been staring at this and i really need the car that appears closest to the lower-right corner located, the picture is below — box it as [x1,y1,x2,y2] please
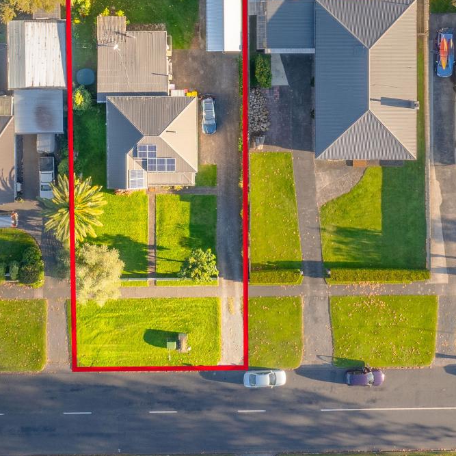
[346,362,383,388]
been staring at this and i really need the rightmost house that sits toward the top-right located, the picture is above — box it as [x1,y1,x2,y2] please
[314,0,421,169]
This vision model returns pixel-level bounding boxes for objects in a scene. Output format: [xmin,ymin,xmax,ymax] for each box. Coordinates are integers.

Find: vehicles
[37,158,56,201]
[243,368,286,389]
[346,362,383,388]
[435,31,455,77]
[0,211,19,229]
[199,93,218,137]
